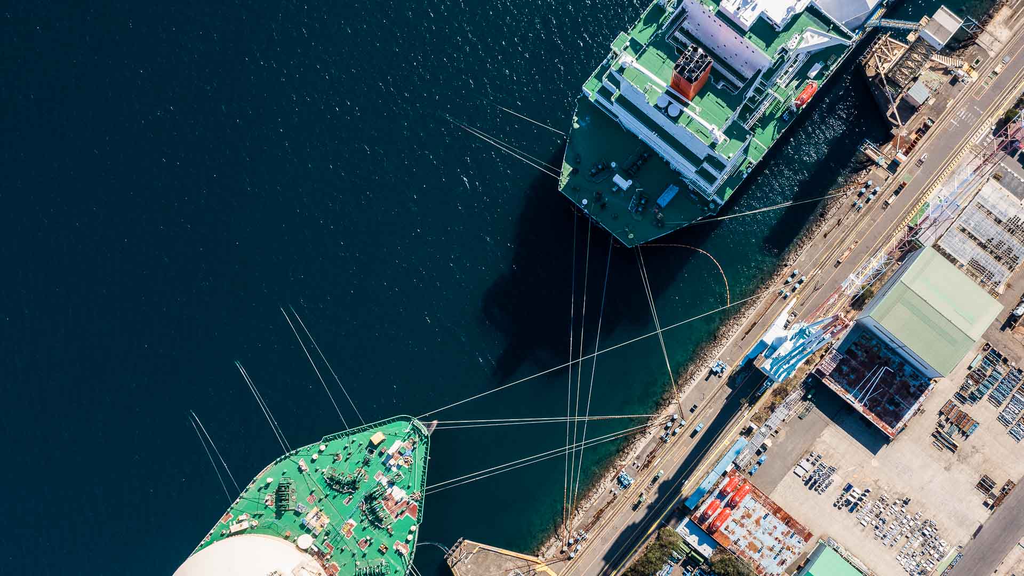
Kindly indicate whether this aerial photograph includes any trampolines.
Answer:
No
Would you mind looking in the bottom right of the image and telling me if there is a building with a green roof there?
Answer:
Yes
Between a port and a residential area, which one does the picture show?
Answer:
port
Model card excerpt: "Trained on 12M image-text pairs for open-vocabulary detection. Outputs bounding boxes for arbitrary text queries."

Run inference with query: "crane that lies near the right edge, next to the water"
[734,112,1024,398]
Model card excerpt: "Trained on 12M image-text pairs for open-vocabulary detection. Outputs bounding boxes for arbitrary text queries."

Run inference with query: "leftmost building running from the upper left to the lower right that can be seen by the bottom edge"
[674,514,718,559]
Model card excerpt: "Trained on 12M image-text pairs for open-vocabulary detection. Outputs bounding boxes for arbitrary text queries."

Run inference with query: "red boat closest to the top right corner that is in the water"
[796,84,815,108]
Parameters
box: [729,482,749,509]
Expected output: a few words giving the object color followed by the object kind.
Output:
red boat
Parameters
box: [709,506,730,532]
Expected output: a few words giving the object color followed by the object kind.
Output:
red boat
